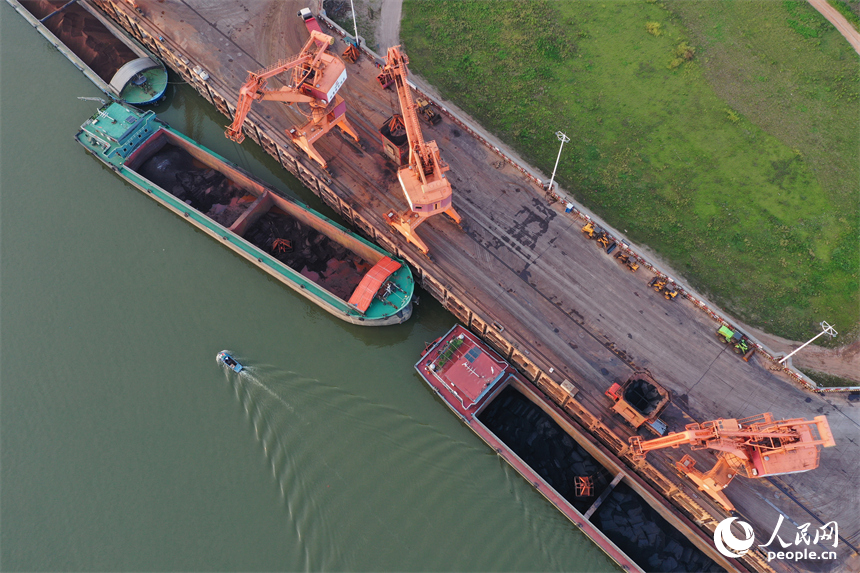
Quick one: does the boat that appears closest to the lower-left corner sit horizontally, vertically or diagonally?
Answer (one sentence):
What the image shows is the boat that appears closest to the lower-left corner lying diagonally.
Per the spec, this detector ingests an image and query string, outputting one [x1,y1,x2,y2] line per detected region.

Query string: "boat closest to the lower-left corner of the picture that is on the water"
[220,350,245,375]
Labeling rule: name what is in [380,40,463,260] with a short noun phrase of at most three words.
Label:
crane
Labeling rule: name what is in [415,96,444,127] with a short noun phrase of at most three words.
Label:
work vehicle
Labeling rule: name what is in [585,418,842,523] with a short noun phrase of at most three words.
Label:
crane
